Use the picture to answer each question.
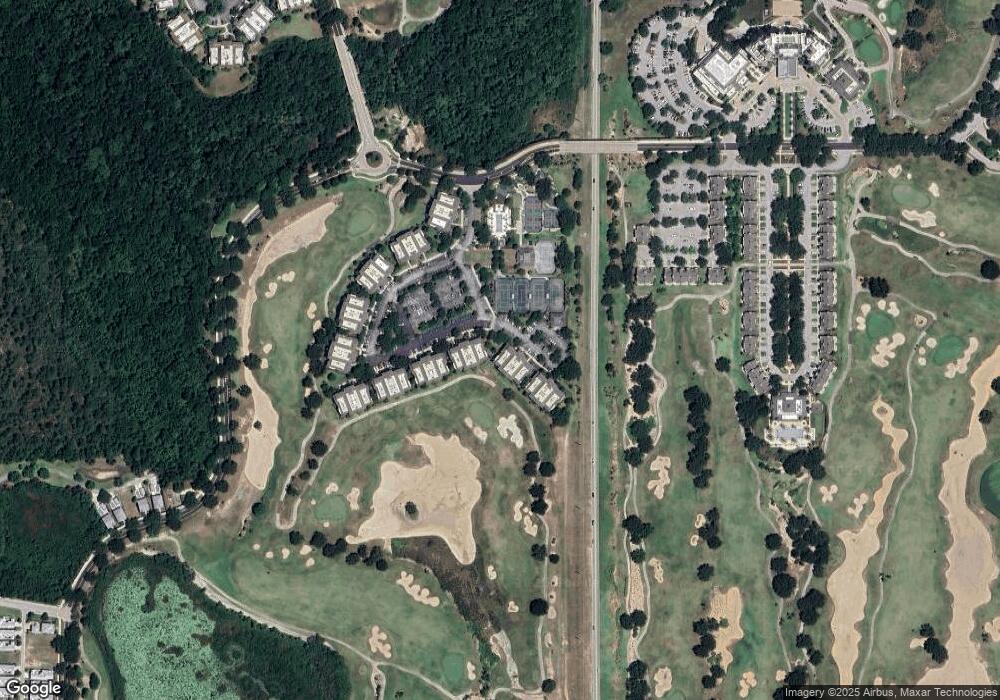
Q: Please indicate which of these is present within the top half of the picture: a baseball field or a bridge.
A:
bridge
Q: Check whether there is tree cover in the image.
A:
Yes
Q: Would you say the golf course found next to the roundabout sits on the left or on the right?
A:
left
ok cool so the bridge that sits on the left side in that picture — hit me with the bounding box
[327,28,374,145]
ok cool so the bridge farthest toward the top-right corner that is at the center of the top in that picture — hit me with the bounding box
[560,140,638,153]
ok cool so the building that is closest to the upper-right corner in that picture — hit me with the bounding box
[824,58,867,100]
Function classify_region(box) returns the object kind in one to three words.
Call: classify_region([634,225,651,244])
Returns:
house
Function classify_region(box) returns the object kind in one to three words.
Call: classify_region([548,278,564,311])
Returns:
tennis court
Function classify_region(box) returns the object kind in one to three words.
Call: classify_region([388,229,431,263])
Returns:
building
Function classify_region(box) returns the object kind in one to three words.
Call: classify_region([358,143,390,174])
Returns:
roundabout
